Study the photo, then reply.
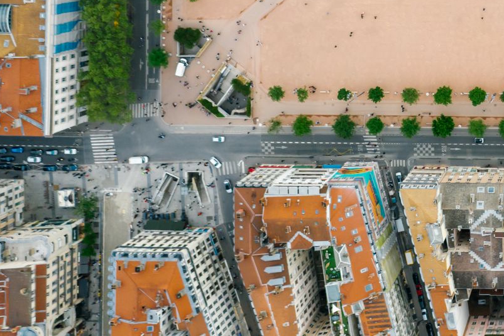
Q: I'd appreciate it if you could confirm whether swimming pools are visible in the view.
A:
No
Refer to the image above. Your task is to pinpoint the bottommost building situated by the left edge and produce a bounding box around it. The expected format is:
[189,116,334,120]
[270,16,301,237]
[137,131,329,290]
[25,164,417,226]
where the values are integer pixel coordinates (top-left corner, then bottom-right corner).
[0,217,83,336]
